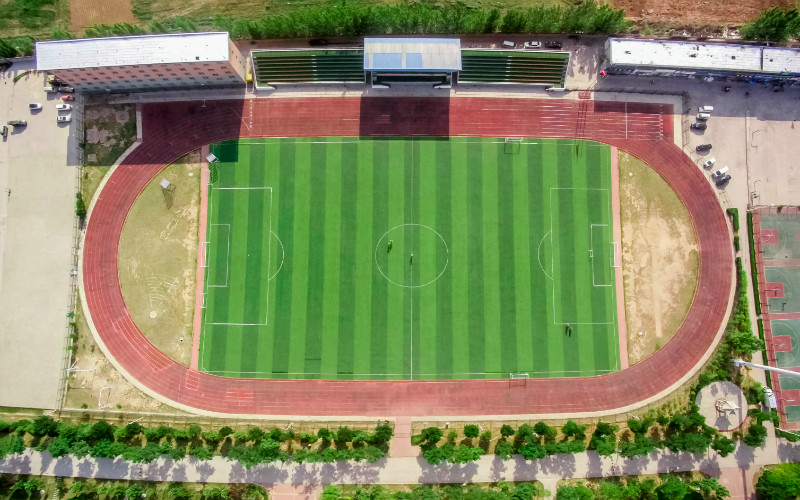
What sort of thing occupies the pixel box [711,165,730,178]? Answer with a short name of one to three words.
vehicle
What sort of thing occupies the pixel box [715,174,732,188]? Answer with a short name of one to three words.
vehicle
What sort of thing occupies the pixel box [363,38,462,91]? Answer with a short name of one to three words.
building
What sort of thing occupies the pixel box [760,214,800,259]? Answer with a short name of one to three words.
basketball court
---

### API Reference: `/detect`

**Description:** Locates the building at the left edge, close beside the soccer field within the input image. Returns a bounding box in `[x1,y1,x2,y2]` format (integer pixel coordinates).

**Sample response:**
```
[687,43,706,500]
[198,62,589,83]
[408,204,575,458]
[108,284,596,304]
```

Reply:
[35,31,246,90]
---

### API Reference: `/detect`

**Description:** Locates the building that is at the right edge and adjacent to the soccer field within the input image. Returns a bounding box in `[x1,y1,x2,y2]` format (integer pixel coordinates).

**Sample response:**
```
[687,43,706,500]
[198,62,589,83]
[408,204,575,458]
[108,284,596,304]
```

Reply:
[604,36,762,81]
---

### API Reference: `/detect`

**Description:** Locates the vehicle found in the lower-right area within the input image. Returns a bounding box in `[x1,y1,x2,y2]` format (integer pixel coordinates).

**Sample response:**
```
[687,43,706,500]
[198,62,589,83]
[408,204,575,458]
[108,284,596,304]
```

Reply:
[762,384,782,410]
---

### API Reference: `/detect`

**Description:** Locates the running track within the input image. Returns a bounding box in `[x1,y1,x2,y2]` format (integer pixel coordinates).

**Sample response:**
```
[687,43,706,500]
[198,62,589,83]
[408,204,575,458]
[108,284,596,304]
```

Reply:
[77,96,738,422]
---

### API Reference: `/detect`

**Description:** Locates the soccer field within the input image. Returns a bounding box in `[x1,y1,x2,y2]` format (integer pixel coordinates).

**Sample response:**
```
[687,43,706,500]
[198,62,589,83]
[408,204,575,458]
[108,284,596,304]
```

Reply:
[197,138,623,380]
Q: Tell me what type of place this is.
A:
sports ground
